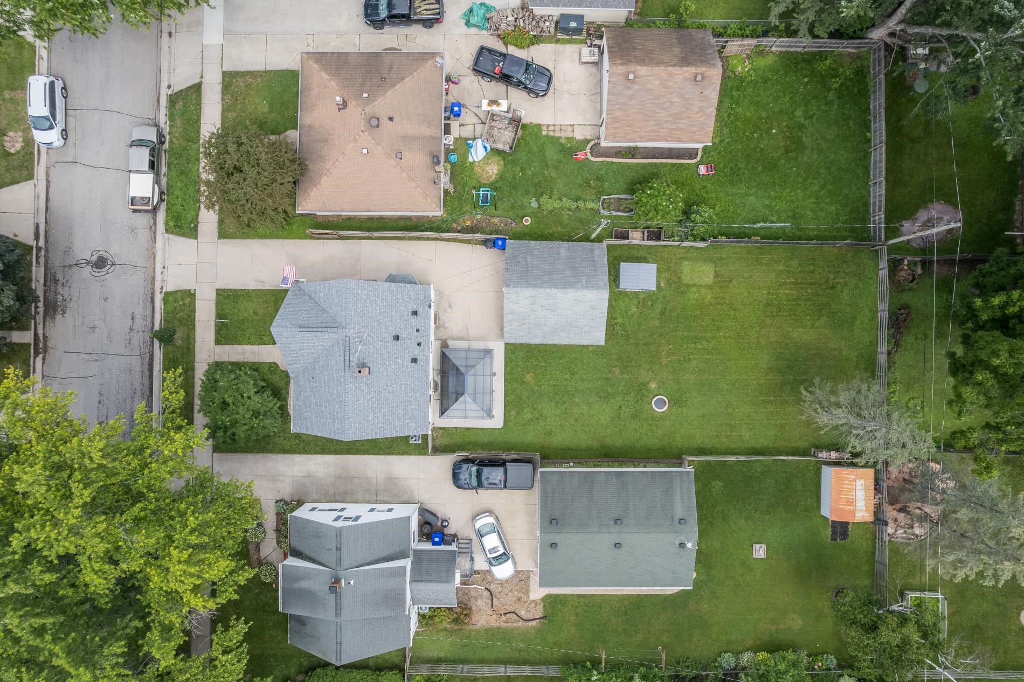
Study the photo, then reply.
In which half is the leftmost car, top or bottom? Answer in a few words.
top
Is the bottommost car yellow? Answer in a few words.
No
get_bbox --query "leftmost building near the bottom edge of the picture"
[277,507,460,669]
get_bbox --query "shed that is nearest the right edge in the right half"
[821,465,874,522]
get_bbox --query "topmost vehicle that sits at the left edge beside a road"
[26,76,67,149]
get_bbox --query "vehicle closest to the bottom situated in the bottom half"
[473,512,515,582]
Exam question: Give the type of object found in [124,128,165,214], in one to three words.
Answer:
truck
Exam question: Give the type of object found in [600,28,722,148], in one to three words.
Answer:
building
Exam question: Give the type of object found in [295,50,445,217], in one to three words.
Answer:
house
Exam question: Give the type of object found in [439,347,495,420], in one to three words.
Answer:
gazebo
